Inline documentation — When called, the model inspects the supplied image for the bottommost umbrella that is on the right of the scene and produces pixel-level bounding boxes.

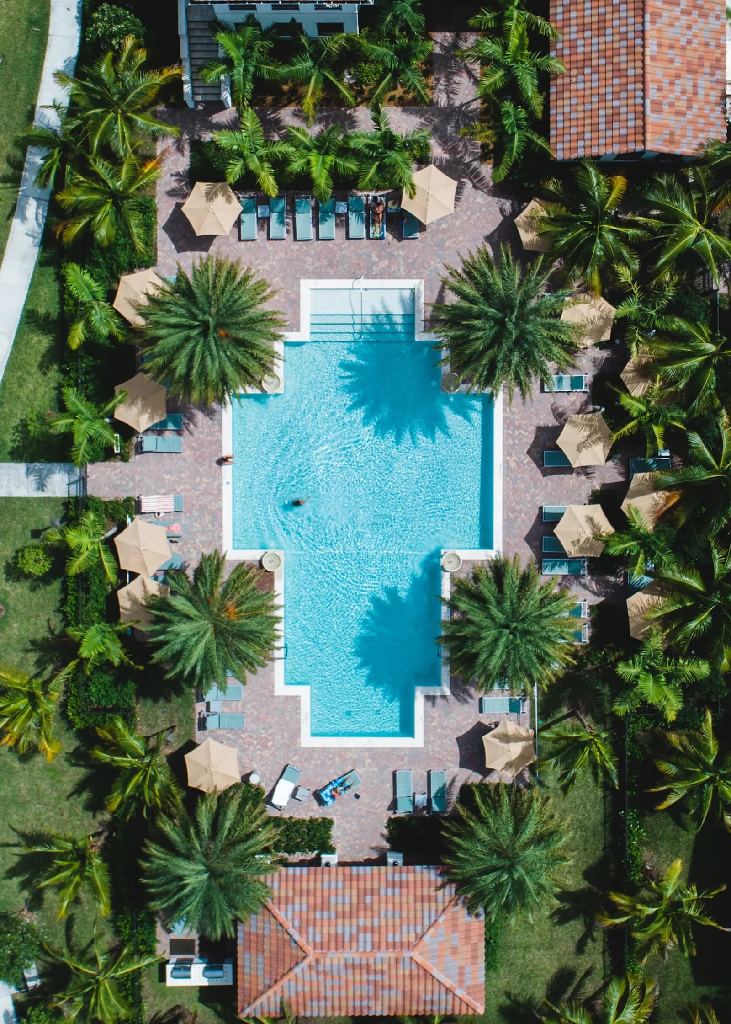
[480,718,536,778]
